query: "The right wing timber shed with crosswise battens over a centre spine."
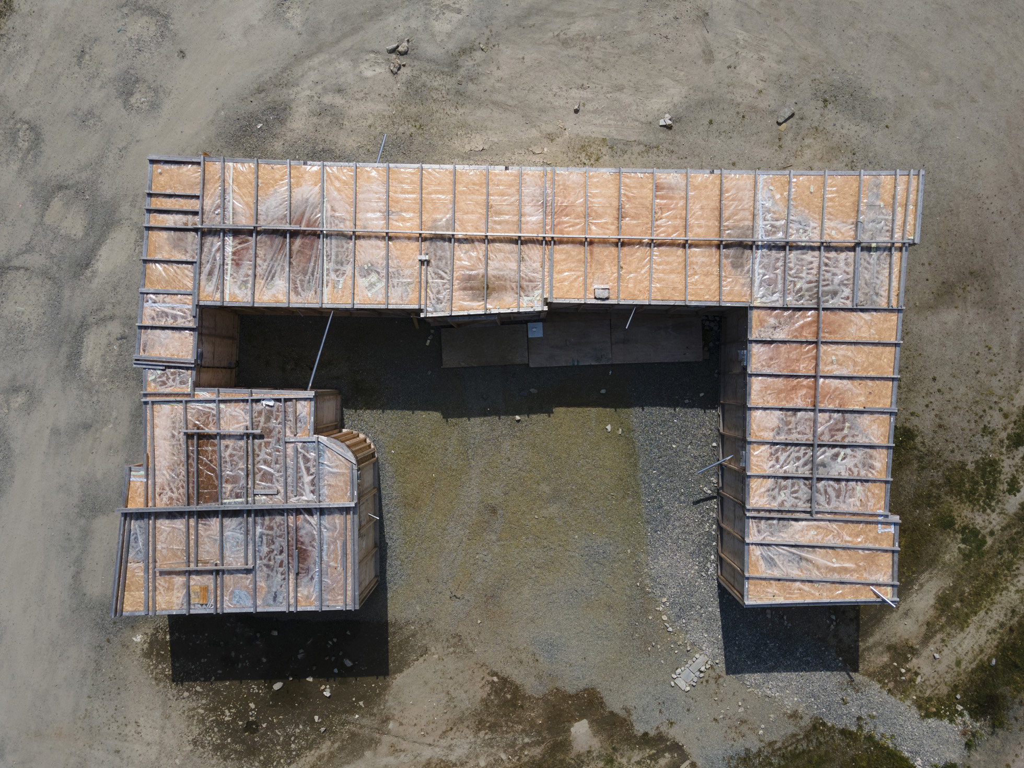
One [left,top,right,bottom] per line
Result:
[697,293,905,608]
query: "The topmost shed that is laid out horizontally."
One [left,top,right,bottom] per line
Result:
[157,134,925,329]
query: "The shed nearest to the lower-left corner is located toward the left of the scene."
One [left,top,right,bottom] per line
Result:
[112,386,380,618]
